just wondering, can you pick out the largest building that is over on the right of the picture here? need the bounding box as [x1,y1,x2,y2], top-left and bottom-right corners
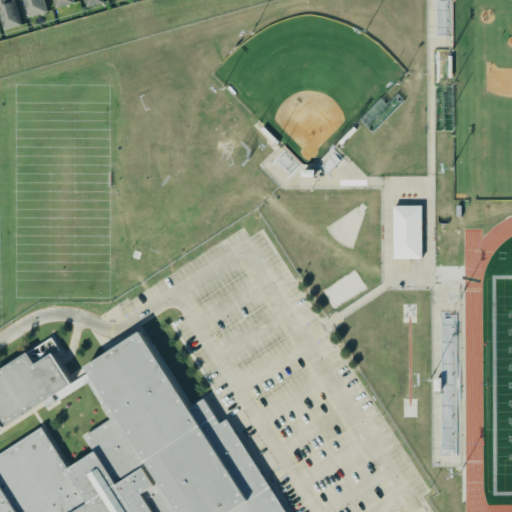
[394,206,423,260]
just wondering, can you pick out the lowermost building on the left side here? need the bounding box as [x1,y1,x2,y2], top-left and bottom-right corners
[0,331,289,512]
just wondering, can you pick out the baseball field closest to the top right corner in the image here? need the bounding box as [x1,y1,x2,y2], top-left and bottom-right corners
[456,0,512,198]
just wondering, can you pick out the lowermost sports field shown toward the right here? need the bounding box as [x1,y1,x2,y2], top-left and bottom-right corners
[484,236,512,504]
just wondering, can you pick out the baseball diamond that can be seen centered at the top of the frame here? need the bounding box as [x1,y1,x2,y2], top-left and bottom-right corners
[214,15,406,164]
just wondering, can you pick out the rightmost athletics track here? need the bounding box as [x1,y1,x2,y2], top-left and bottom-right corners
[466,216,512,512]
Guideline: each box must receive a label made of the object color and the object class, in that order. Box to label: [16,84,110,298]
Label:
green sports field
